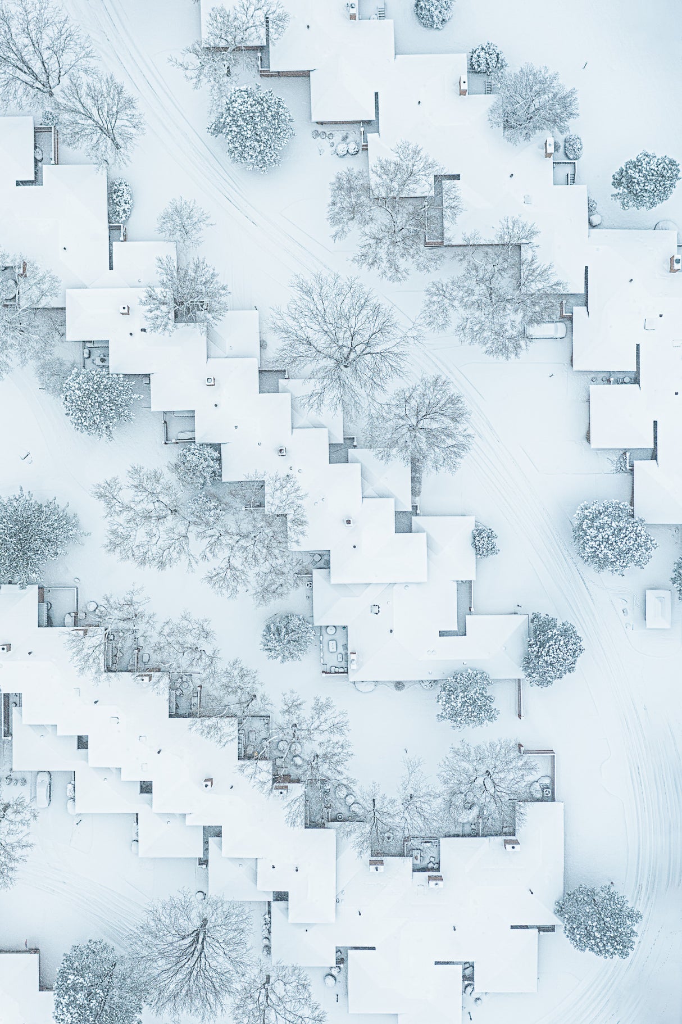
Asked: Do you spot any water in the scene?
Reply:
No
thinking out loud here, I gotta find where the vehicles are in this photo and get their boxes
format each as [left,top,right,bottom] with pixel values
[35,771,54,808]
[525,321,565,340]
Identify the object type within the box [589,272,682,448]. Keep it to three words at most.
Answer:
house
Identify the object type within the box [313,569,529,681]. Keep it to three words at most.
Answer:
house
